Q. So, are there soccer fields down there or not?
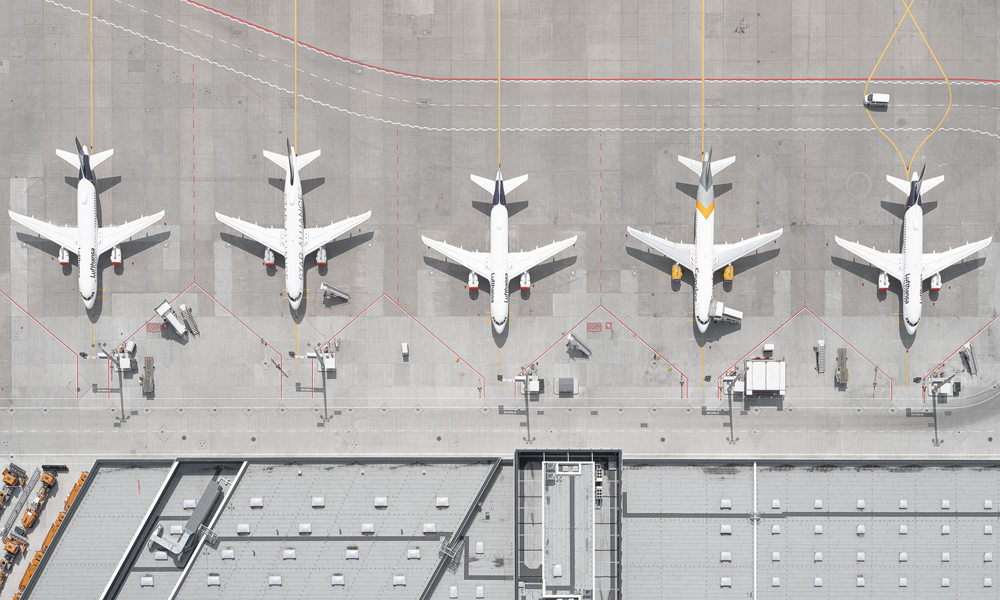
No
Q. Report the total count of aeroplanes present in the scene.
five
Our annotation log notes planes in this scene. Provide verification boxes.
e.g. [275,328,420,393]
[7,138,165,309]
[835,164,992,335]
[215,140,373,310]
[624,143,782,333]
[421,162,578,334]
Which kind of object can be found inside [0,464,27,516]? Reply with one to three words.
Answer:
vehicle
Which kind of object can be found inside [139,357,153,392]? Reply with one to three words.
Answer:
work vehicle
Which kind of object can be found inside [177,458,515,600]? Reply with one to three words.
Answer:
building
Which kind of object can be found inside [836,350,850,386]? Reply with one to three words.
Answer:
vehicle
